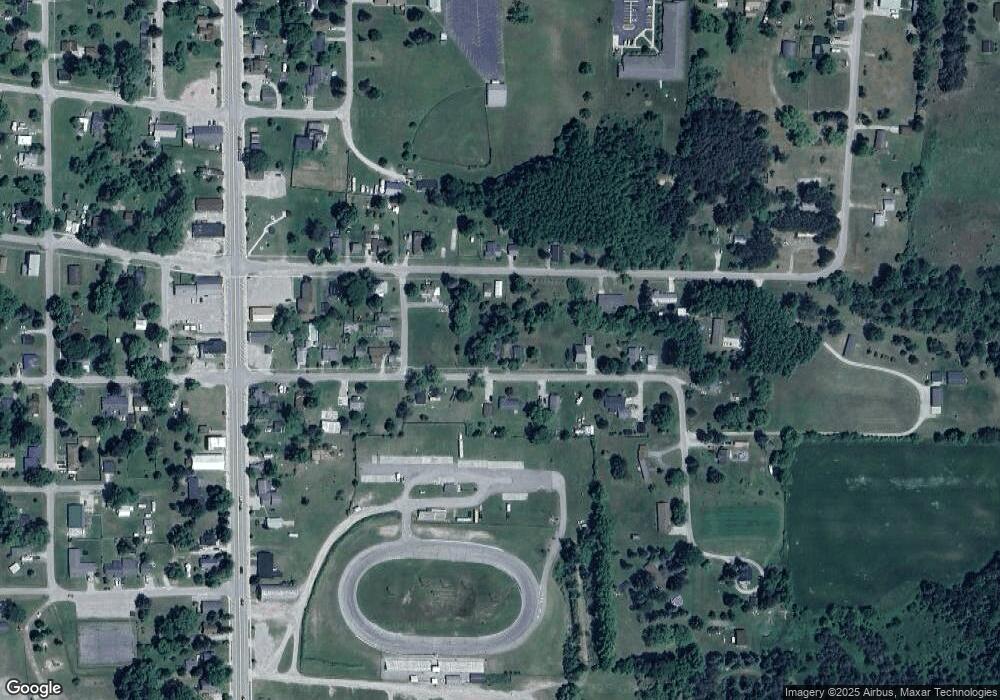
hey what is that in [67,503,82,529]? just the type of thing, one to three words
barn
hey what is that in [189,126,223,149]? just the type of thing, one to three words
building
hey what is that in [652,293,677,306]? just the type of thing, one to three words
house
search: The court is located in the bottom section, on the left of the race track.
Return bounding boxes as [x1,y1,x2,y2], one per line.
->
[79,622,135,666]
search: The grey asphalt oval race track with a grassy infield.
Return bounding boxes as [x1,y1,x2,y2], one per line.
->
[337,537,540,656]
